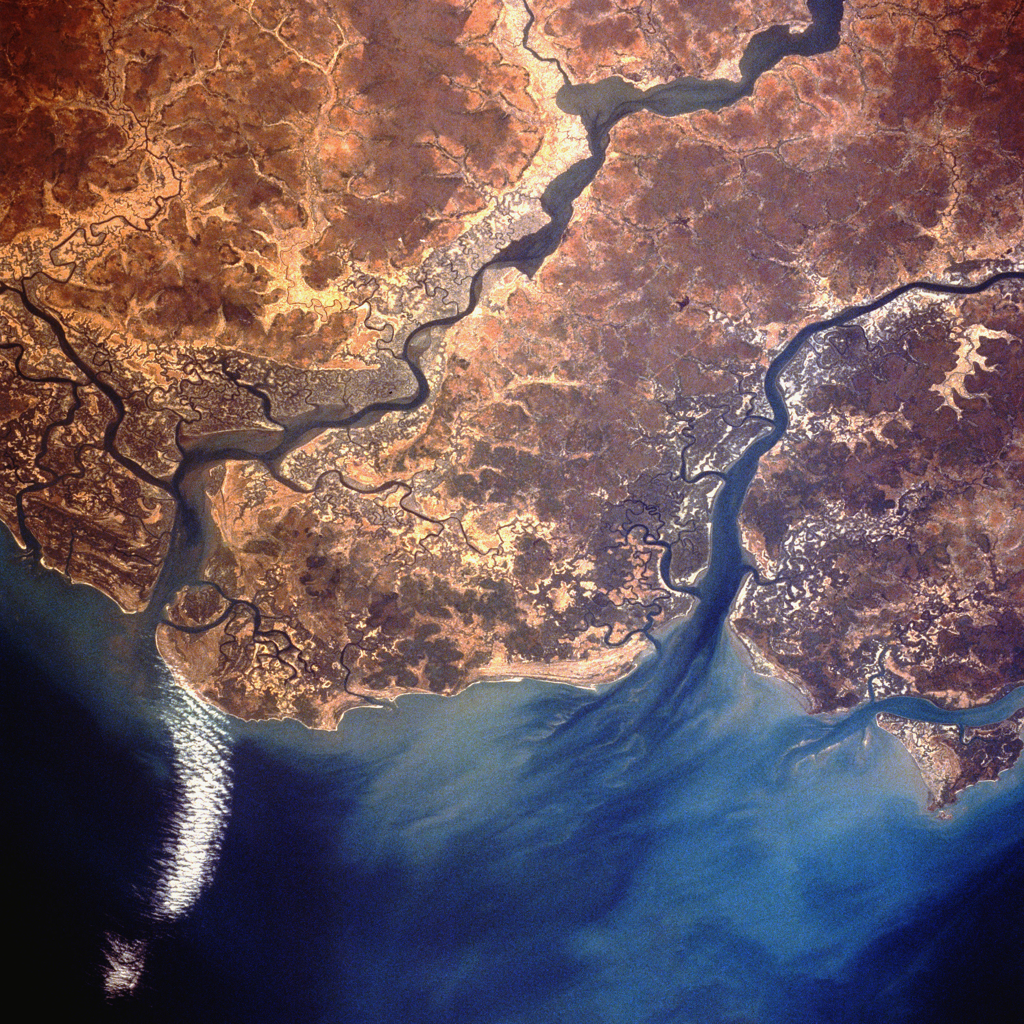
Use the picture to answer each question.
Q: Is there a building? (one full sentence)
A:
No, no building is visible in the scene.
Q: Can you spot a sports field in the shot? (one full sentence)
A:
No, there is no sports field in the image.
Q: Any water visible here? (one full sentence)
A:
Yes, there is water in the image.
